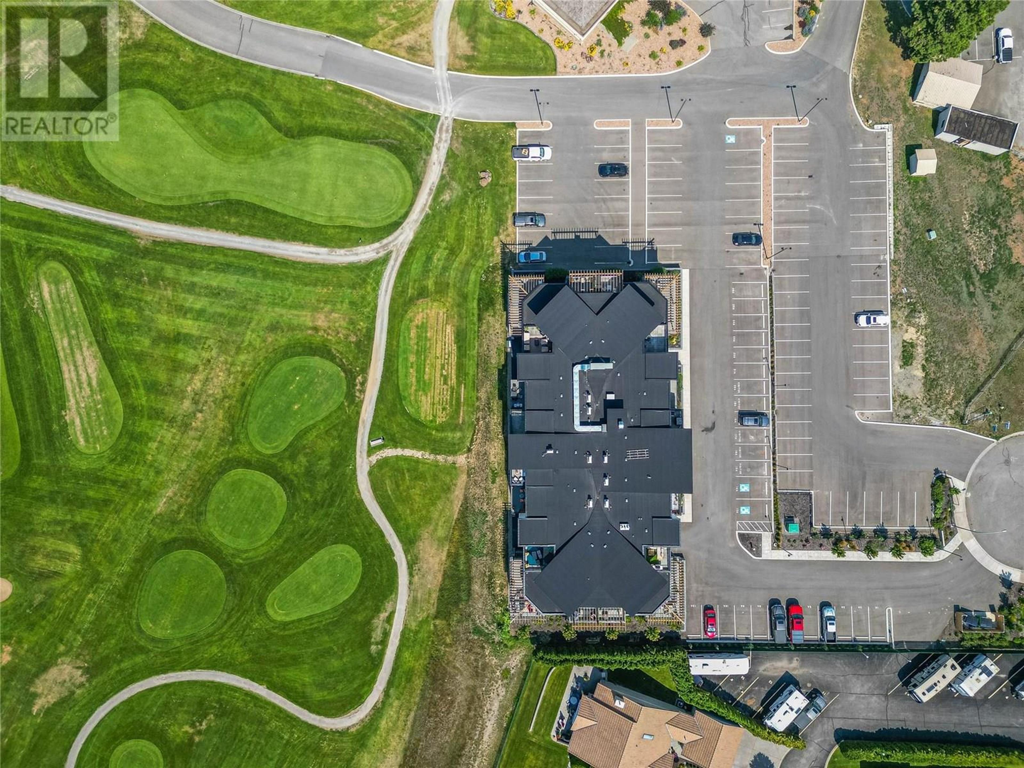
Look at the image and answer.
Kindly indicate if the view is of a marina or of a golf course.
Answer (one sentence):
The picture captures a golf course.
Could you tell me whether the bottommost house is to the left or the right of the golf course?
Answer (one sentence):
Compared with the golf course, the bottommost house is located further to the right.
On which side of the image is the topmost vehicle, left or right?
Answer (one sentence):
It is on the right.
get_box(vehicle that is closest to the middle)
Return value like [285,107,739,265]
[519,250,547,264]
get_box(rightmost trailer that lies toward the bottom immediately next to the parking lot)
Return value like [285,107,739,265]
[946,654,1001,697]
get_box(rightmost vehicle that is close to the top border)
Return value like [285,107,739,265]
[995,27,1015,66]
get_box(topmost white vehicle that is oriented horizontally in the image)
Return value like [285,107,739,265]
[512,144,551,162]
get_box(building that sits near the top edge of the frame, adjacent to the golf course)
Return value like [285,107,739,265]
[528,0,620,49]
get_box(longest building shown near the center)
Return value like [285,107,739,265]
[508,270,693,632]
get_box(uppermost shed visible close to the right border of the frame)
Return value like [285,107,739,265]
[904,59,983,117]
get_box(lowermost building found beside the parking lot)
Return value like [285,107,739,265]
[568,676,743,768]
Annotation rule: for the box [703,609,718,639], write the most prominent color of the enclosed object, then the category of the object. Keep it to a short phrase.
red car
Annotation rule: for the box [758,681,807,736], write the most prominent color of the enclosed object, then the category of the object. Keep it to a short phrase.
white trailer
